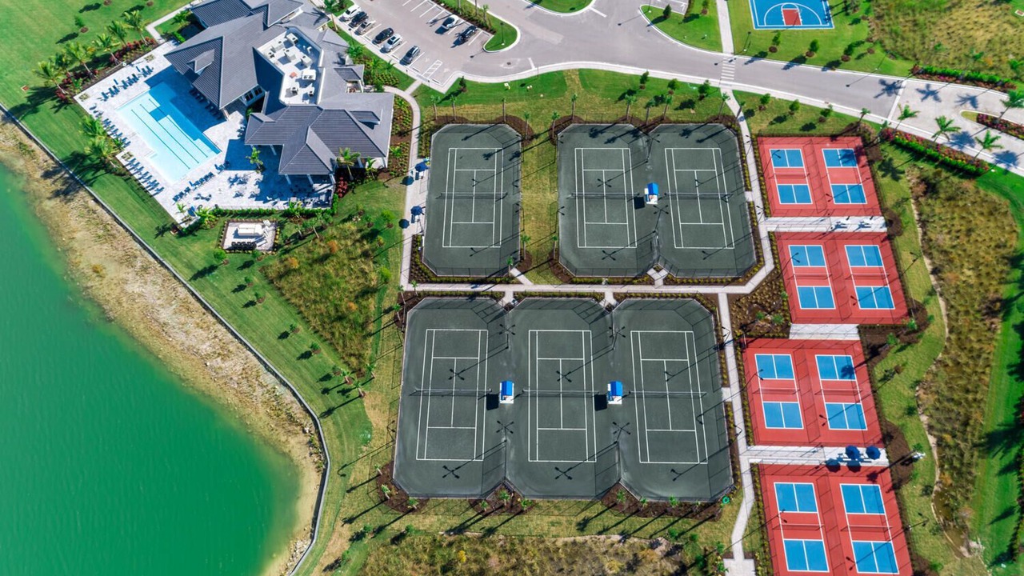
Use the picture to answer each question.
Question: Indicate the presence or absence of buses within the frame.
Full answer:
No, the picture doesn't show any bus.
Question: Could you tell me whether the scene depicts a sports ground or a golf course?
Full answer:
The area seen from above is a sports ground.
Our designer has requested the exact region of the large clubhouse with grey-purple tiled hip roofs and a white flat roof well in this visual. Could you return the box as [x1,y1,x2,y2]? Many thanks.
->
[164,0,395,186]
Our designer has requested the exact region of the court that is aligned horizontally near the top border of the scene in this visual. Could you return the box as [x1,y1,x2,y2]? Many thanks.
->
[749,0,835,29]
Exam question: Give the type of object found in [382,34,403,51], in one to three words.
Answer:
car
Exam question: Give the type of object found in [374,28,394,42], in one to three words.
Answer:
car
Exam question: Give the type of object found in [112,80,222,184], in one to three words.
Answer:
swimming pool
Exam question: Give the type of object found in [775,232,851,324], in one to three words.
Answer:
sports court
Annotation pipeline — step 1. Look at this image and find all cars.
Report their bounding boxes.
[350,10,370,27]
[374,28,394,42]
[382,34,403,51]
[341,4,361,20]
[356,19,377,34]
[458,25,476,41]
[439,14,459,29]
[402,45,421,63]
